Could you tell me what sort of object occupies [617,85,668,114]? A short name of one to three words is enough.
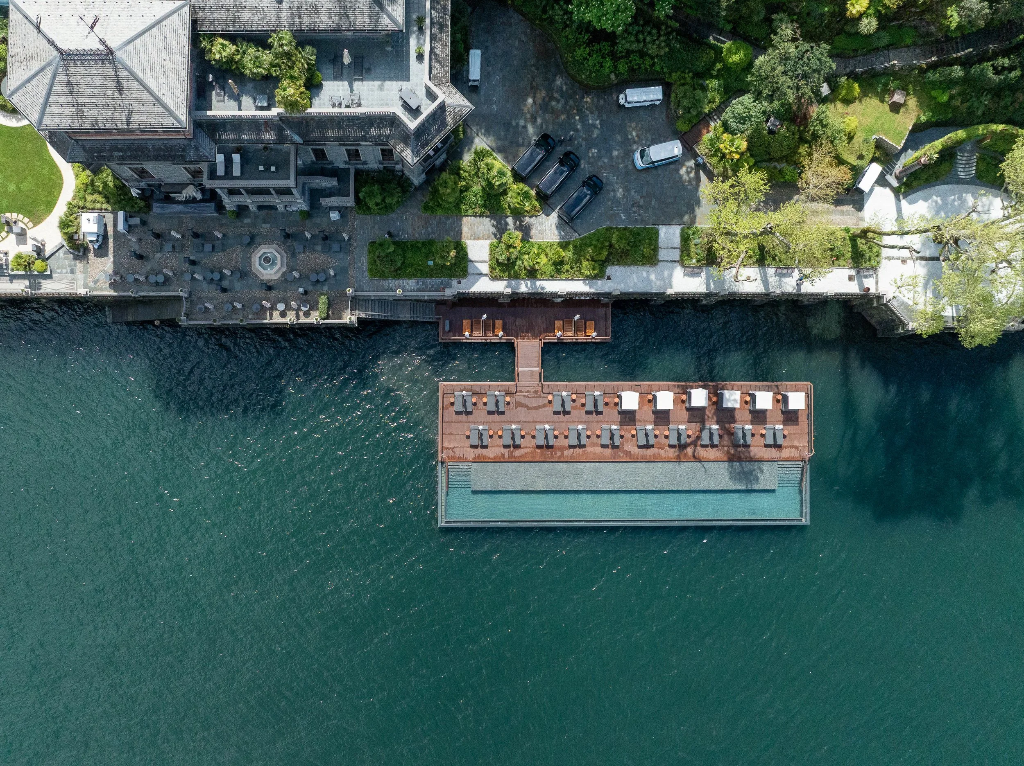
vehicle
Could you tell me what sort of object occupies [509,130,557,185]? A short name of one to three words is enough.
van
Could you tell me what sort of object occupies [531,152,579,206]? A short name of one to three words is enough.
van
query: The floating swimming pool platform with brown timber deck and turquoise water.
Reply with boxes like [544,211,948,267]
[439,368,813,526]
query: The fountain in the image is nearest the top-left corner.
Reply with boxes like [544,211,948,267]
[252,245,287,280]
